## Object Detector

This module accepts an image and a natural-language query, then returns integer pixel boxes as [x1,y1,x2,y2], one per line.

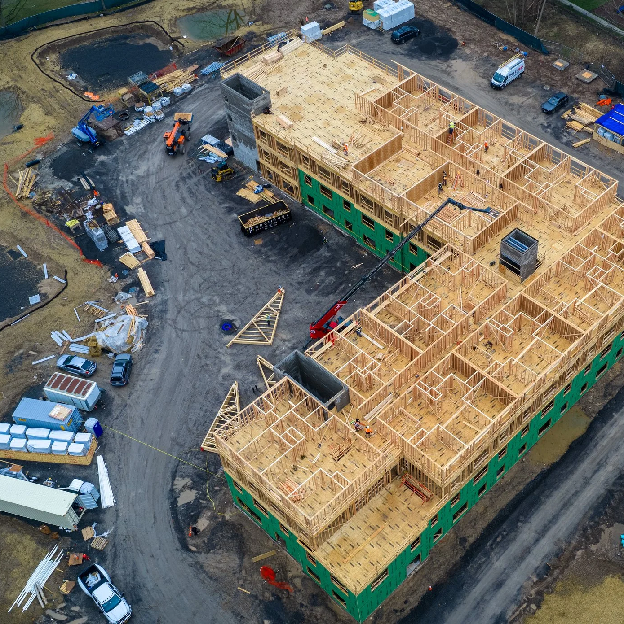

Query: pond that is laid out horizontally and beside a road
[178,9,250,43]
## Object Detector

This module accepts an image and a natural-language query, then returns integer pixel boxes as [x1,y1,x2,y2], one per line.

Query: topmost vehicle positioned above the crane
[348,0,365,18]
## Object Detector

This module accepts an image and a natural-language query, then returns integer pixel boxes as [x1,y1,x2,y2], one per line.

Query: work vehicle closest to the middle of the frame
[207,159,239,181]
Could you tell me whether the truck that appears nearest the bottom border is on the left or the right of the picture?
left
